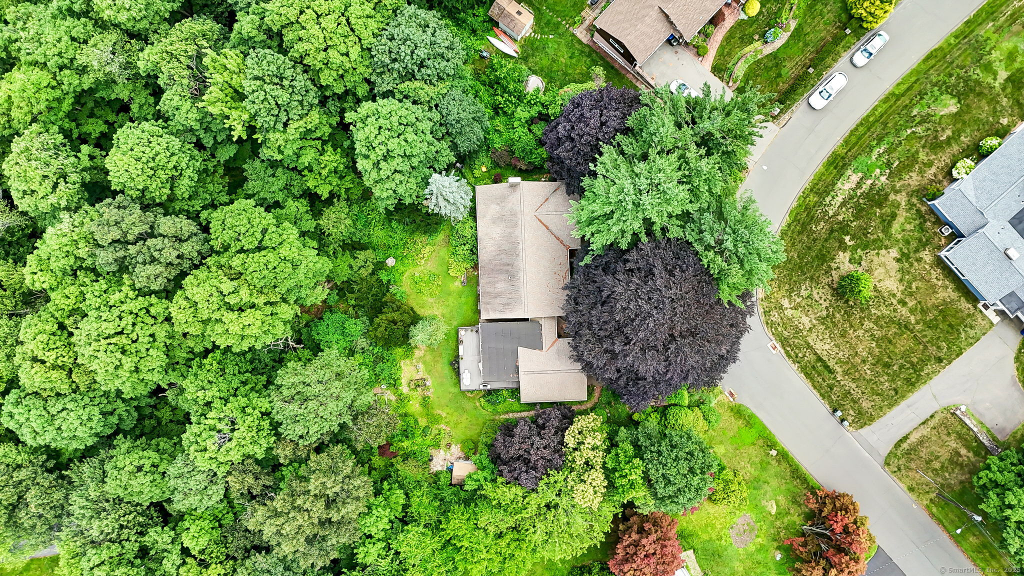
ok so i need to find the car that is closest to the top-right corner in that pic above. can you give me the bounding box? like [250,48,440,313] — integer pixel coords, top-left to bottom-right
[847,28,893,72]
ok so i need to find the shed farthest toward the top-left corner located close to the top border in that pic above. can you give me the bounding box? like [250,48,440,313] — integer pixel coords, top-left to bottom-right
[486,0,536,44]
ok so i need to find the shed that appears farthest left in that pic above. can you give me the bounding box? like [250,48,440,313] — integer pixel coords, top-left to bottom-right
[450,459,478,490]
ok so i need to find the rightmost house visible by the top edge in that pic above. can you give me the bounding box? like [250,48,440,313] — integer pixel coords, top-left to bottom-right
[593,0,728,72]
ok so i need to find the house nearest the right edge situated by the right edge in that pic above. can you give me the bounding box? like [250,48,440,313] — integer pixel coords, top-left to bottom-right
[919,119,1024,308]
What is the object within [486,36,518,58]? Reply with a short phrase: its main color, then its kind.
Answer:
white boat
